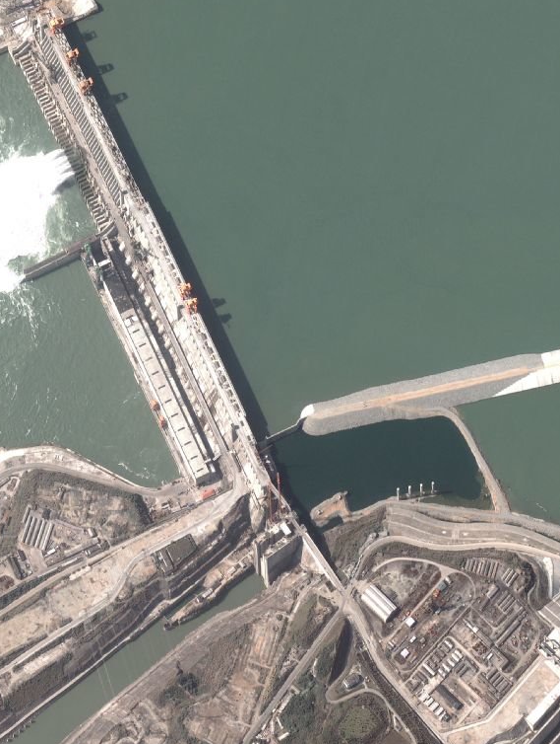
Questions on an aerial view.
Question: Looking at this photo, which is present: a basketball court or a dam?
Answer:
dam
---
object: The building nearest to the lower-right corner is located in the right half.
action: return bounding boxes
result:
[527,684,560,724]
